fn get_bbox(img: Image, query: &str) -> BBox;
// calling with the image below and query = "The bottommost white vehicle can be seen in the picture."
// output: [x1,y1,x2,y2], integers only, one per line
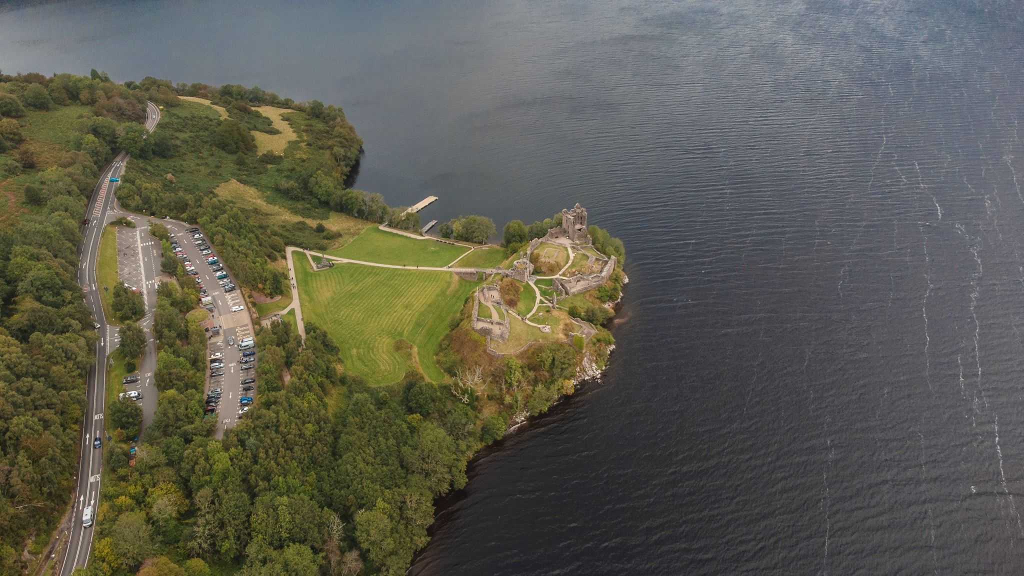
[84,505,96,528]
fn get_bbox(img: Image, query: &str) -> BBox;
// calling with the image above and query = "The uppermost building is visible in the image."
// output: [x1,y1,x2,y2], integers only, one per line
[561,204,590,243]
